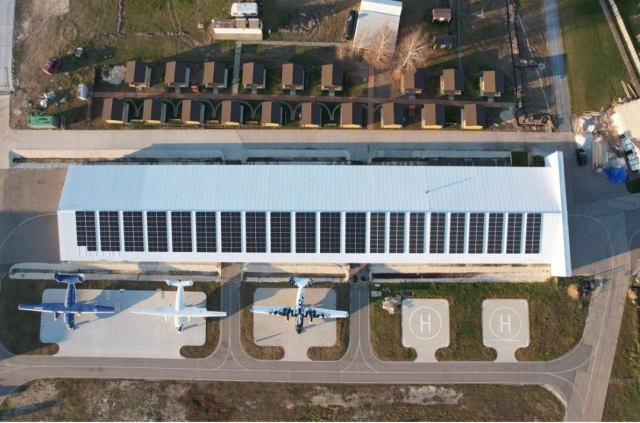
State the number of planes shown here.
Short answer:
3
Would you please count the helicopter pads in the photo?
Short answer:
2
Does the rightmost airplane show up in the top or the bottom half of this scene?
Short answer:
bottom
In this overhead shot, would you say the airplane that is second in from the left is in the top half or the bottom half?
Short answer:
bottom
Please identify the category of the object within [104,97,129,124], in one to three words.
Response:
building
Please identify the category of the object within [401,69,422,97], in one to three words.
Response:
building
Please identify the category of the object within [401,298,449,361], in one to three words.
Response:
helipad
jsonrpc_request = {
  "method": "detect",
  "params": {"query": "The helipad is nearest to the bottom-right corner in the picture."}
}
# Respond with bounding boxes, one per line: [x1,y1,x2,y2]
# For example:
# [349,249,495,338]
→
[483,298,531,362]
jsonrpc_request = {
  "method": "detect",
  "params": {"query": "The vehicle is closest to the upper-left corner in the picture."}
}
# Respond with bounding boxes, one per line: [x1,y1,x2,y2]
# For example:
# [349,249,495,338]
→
[42,54,62,77]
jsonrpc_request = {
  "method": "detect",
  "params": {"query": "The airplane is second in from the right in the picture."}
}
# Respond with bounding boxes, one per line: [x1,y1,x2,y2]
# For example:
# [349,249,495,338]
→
[131,277,228,335]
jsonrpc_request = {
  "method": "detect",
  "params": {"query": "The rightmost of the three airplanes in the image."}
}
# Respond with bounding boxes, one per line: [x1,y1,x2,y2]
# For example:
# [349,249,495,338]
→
[251,277,348,335]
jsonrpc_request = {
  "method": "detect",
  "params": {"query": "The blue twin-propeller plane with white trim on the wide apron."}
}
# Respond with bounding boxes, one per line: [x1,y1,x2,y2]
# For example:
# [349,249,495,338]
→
[19,274,116,332]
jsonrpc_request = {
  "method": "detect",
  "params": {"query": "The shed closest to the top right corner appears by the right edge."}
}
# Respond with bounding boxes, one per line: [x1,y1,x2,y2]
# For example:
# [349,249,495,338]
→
[599,99,640,141]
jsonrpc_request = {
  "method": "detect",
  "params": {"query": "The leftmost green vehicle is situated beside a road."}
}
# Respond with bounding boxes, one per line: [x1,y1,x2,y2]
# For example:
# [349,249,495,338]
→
[25,115,62,129]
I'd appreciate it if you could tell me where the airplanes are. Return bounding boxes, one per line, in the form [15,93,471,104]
[251,277,348,335]
[19,274,116,332]
[131,277,228,335]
